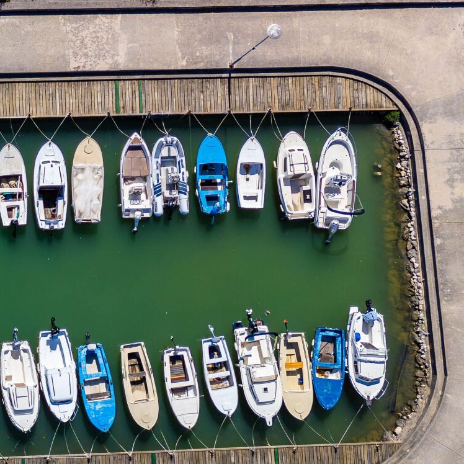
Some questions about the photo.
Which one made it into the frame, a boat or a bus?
boat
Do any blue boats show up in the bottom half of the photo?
Yes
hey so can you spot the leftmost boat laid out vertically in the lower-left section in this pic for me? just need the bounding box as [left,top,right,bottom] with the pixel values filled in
[0,327,40,431]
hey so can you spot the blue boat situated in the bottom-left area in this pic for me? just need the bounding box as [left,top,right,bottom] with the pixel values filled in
[78,333,115,431]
